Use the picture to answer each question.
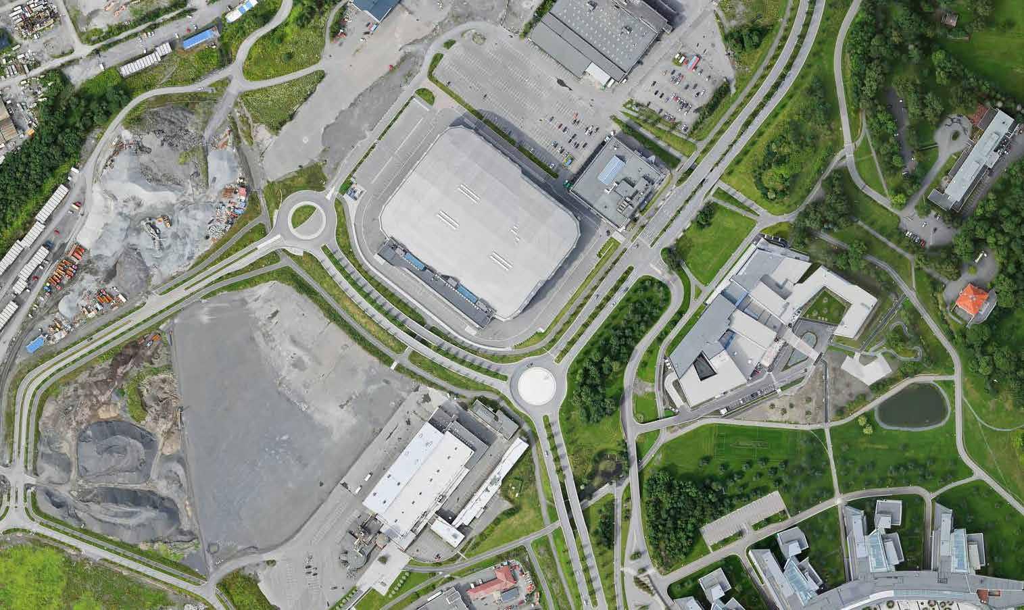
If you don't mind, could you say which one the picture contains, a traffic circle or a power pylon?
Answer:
traffic circle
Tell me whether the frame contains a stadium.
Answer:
Yes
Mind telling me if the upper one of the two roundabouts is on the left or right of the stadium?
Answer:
to the left of it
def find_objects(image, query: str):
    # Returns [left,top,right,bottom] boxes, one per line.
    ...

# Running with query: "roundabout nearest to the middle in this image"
[507,356,567,417]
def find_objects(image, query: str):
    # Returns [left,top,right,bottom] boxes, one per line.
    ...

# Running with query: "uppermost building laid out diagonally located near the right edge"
[926,107,1015,212]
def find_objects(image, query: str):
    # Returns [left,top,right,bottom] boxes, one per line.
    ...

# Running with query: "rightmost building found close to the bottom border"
[672,498,1024,610]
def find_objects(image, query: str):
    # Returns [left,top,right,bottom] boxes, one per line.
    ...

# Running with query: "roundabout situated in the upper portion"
[278,191,336,249]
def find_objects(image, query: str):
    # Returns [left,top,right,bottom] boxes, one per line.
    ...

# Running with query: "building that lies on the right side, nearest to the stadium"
[569,134,667,230]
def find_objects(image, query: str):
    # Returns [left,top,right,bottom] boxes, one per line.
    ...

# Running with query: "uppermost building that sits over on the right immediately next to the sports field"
[668,238,878,407]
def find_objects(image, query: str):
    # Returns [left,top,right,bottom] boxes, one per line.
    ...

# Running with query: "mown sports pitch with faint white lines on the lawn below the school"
[713,427,780,466]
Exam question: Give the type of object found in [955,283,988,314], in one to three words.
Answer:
house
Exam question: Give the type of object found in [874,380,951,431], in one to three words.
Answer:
pond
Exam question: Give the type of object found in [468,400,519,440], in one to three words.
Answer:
building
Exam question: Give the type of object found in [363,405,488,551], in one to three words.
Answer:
building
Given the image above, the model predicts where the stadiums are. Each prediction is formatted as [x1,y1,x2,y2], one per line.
[373,123,582,336]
